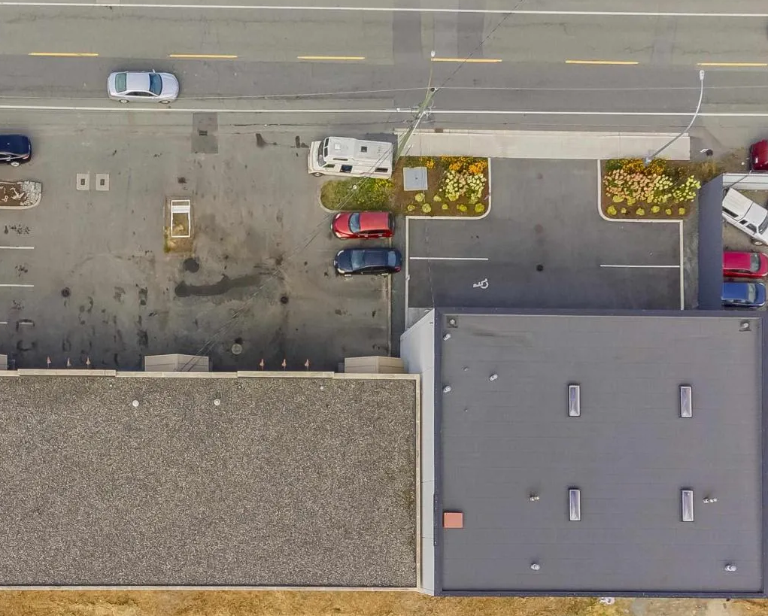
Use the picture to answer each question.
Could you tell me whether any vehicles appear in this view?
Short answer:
Yes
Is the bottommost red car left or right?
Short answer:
right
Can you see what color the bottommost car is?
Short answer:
blue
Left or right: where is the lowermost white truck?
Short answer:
right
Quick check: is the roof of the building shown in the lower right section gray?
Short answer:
Yes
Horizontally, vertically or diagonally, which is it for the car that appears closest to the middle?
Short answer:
horizontally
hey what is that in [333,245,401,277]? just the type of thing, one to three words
car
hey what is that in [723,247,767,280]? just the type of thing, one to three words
car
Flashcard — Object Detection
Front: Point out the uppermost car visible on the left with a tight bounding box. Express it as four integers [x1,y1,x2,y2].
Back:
[107,68,178,106]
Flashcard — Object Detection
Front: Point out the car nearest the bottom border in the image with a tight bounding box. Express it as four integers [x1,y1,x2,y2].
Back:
[723,279,764,309]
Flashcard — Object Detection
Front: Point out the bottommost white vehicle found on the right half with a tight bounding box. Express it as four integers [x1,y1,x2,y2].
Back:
[723,183,768,246]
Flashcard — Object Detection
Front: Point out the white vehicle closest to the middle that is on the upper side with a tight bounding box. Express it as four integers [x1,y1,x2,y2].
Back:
[307,139,393,182]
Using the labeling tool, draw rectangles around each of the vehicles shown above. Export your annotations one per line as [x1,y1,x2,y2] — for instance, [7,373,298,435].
[723,279,764,309]
[307,139,393,182]
[752,138,768,170]
[0,135,32,168]
[330,208,395,241]
[333,245,401,277]
[723,183,768,246]
[107,68,178,106]
[723,247,767,280]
